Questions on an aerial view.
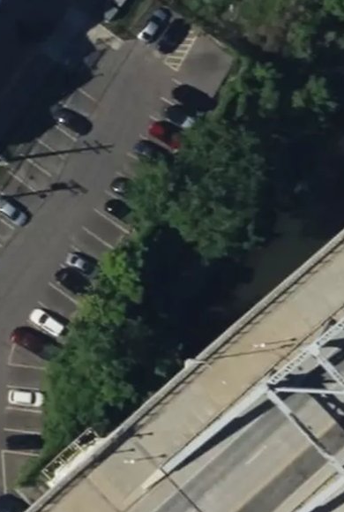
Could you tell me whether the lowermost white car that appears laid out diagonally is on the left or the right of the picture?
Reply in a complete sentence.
It is on the left.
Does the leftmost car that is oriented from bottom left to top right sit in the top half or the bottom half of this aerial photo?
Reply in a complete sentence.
The leftmost car that is oriented from bottom left to top right sits in the top half of the picture.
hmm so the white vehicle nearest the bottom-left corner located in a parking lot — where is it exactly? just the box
[8,389,44,406]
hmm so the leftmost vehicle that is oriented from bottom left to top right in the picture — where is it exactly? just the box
[137,9,169,45]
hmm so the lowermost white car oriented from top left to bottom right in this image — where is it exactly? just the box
[30,308,68,337]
